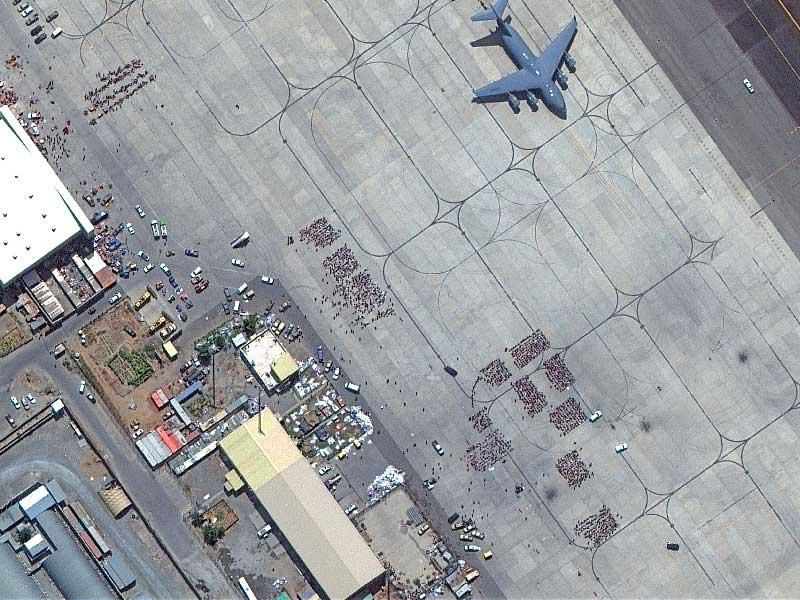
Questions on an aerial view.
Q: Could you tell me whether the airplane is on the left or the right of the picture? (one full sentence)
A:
The airplane is on the right side of the image.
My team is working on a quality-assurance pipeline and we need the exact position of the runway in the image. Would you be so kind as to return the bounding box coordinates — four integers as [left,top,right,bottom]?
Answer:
[710,0,800,130]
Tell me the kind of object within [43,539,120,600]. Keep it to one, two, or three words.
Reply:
building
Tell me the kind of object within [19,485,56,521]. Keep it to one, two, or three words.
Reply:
house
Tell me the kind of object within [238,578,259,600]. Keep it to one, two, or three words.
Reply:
bus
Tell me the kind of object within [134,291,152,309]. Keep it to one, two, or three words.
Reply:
vehicle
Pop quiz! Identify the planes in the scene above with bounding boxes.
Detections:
[467,0,578,120]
